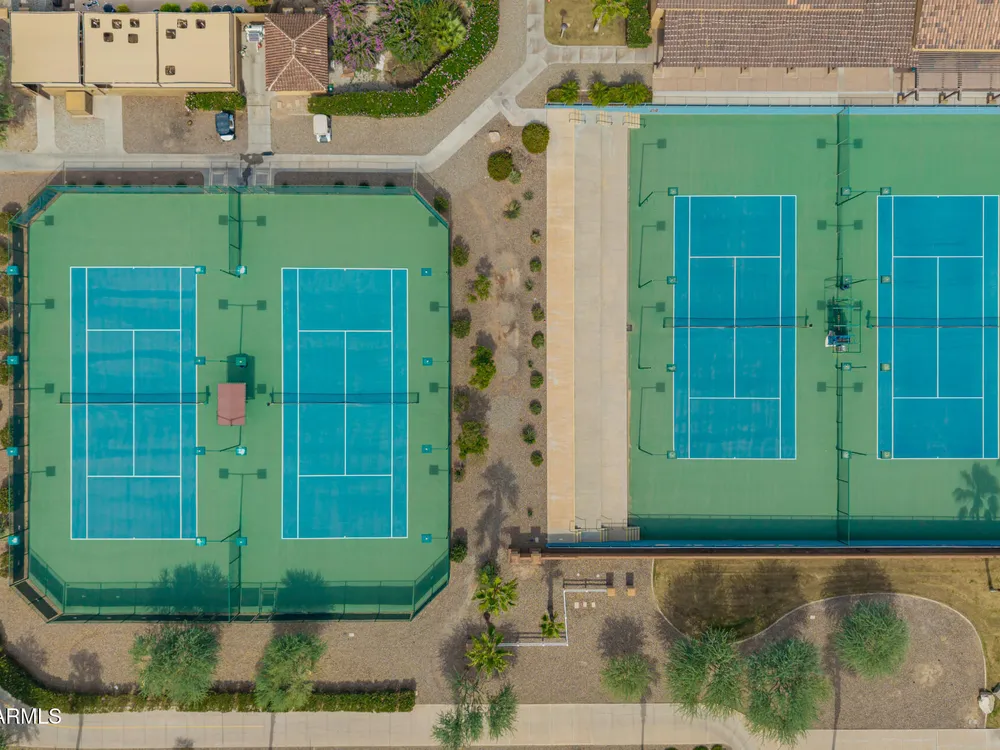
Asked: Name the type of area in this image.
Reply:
sports ground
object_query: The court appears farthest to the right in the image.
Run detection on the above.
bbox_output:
[837,115,1000,540]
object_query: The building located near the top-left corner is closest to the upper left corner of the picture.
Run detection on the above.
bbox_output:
[10,11,96,107]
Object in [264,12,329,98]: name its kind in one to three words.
building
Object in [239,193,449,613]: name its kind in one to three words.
tennis court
